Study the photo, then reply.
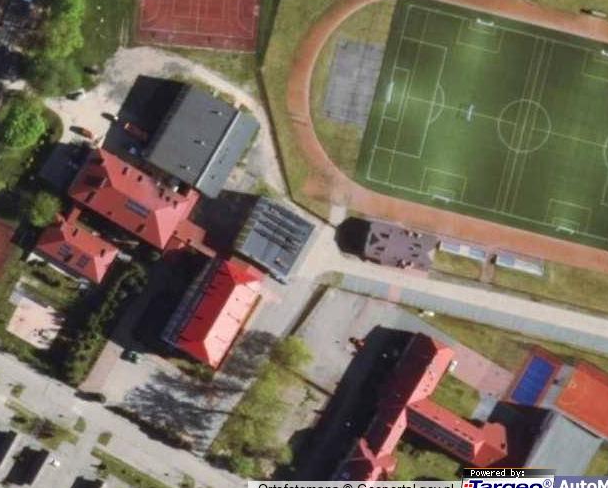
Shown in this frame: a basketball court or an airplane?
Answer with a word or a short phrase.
basketball court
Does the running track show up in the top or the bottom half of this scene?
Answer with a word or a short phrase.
top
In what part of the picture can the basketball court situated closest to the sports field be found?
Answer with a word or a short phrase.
top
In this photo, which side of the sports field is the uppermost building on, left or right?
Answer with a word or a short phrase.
to the left of it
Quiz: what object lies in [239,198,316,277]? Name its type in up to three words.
building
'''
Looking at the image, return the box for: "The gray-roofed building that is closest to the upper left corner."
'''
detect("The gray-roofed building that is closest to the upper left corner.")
[148,84,259,197]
